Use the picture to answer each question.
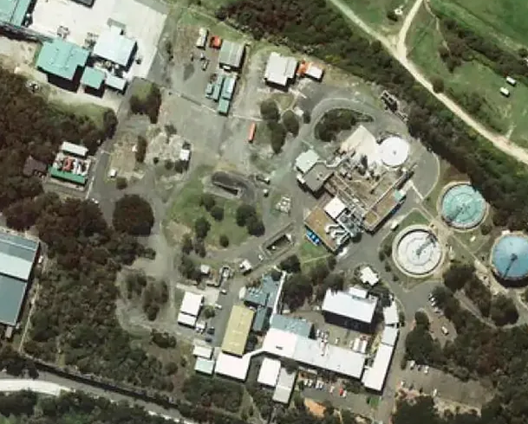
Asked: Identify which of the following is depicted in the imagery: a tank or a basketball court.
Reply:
tank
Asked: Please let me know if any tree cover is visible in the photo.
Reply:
Yes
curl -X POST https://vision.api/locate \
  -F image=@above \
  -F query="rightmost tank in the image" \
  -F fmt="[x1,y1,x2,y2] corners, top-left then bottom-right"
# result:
[488,230,528,282]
